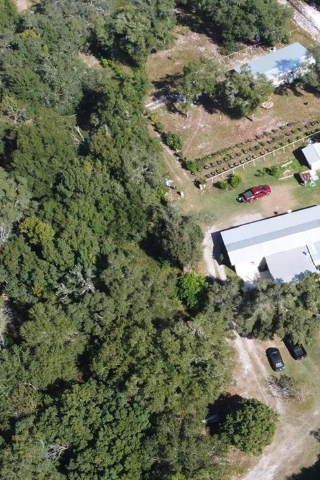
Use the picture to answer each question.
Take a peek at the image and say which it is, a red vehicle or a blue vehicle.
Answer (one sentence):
I can see a red vehicle in this picture.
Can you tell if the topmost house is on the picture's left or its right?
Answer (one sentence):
The topmost house appears in the right half of the scene.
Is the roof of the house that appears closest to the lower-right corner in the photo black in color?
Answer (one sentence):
No, the roof of the house that appears closest to the lower-right corner is actually white.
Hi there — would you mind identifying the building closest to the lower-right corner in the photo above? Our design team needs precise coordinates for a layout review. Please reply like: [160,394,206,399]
[221,206,320,306]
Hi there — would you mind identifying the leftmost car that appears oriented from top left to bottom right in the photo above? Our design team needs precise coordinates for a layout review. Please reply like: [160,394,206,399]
[265,348,287,374]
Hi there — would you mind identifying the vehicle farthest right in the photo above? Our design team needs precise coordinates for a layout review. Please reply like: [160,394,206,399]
[283,333,311,363]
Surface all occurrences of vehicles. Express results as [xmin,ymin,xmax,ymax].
[265,348,287,374]
[238,187,271,204]
[283,333,311,363]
